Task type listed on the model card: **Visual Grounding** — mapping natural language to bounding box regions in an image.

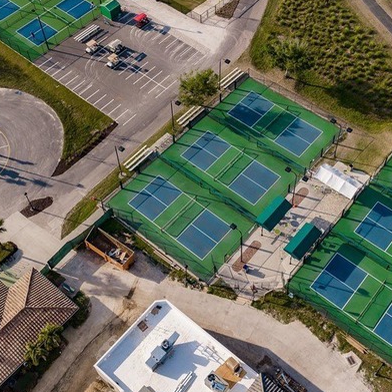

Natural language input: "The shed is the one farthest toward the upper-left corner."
[97,0,122,20]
